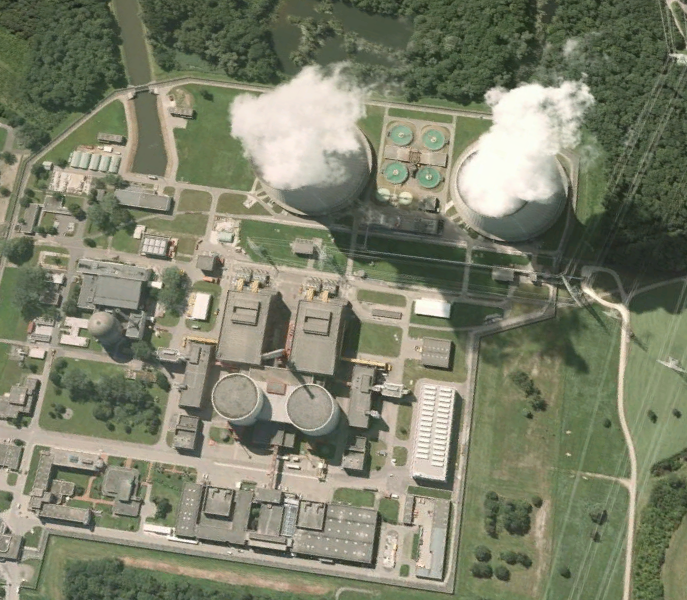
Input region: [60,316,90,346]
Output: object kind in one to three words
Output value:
building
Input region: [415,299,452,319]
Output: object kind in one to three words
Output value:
building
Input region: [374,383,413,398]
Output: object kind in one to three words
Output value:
house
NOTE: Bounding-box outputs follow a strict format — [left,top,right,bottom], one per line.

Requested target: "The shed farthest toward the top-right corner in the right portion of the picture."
[420,152,448,166]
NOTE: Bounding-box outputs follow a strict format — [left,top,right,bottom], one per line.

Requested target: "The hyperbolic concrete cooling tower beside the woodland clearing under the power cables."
[454,129,567,242]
